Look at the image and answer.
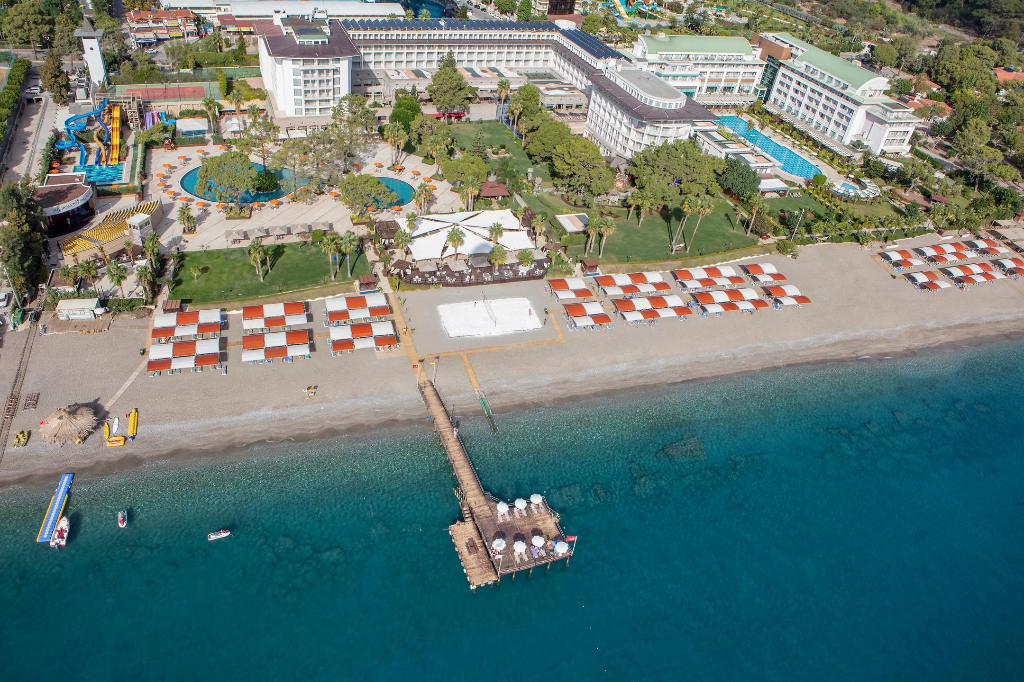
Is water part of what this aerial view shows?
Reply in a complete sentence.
Yes, water can be seen from above here.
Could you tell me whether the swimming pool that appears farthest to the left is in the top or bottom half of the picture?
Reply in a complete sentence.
The swimming pool that appears farthest to the left sits in the top half of the picture.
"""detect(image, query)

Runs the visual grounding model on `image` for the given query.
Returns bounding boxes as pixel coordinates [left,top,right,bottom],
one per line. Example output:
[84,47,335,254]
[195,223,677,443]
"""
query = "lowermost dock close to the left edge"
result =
[35,472,73,542]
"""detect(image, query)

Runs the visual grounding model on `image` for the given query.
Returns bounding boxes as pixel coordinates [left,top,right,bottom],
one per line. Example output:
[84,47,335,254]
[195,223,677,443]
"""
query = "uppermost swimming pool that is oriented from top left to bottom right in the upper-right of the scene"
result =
[715,115,823,178]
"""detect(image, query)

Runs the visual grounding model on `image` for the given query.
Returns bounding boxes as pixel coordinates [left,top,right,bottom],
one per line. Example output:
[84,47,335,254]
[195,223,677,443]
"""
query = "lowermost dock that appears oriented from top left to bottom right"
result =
[418,376,573,581]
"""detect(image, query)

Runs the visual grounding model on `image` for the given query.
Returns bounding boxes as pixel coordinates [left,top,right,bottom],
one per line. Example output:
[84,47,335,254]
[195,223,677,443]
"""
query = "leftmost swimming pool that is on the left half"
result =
[73,162,124,184]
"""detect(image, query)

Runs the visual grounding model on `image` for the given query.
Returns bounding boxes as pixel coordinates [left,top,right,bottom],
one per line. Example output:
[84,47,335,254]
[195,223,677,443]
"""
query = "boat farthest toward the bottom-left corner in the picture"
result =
[48,515,71,550]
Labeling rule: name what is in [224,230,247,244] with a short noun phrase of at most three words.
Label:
umbrella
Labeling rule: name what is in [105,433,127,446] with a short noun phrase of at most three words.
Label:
boat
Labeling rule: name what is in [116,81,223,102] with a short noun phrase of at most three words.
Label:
tennis court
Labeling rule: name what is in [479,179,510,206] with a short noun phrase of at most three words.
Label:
shed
